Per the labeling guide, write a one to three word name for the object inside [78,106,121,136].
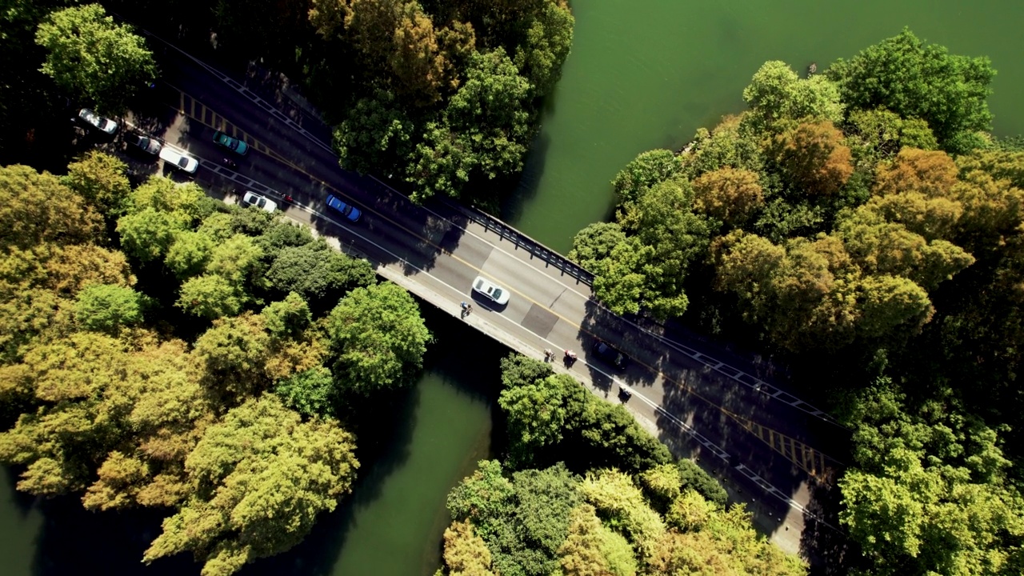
car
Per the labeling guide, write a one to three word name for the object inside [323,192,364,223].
car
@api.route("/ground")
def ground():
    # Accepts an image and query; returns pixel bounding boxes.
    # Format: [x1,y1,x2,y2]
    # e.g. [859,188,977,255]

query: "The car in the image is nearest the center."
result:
[470,275,511,305]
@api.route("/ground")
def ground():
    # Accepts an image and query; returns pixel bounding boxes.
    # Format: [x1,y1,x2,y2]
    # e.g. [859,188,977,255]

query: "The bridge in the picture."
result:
[377,197,613,378]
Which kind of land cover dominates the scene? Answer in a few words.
trees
